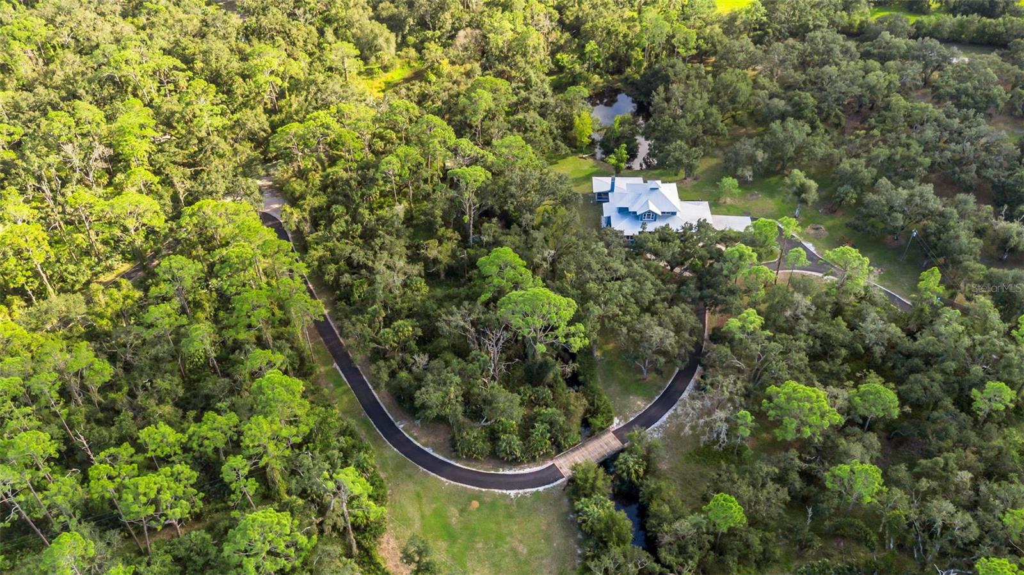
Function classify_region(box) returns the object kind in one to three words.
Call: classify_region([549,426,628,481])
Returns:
bridge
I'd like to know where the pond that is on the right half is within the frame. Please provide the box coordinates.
[587,92,660,174]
